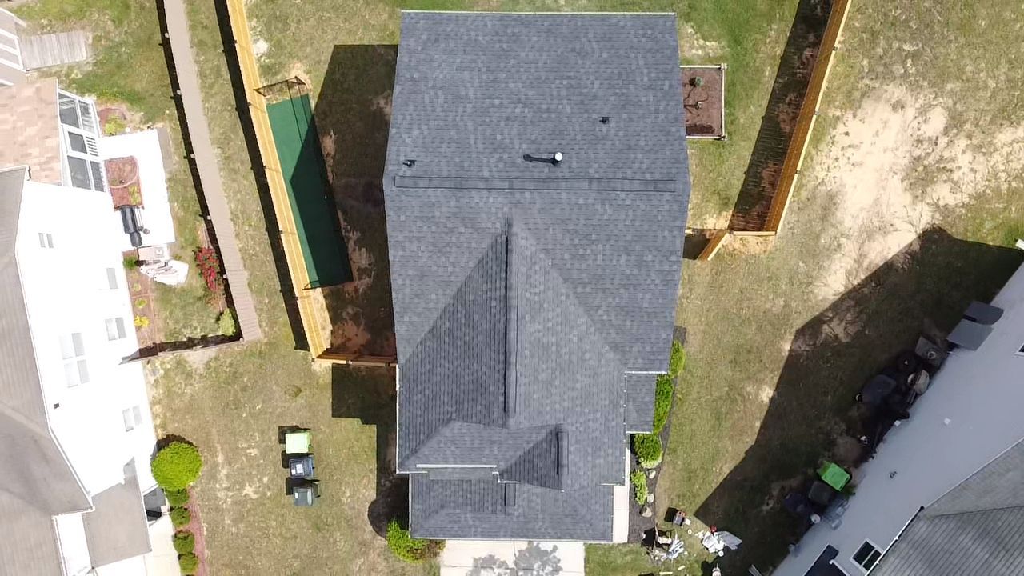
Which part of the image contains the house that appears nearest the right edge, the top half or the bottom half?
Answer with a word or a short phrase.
bottom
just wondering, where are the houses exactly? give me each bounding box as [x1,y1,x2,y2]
[382,10,694,540]
[762,265,1024,576]
[0,73,194,576]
